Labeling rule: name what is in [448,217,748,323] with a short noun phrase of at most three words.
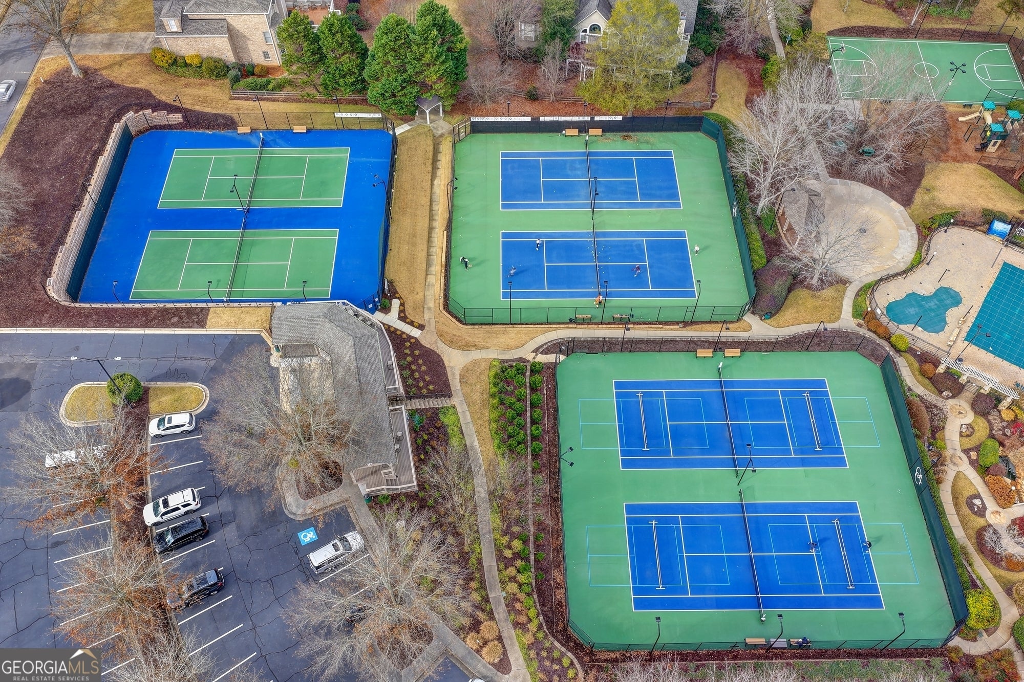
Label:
tennis court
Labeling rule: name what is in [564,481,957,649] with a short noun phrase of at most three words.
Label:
tennis court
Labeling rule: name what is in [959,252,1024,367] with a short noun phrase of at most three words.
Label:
swimming pool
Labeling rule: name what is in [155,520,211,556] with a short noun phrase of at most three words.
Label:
car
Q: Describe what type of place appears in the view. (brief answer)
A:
sports ground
